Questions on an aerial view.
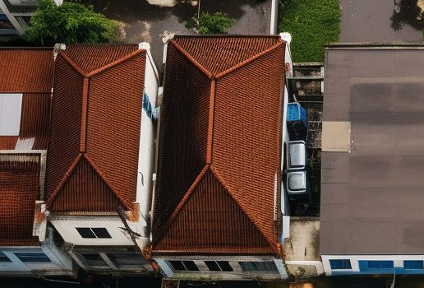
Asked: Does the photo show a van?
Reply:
No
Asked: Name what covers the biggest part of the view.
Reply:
buildings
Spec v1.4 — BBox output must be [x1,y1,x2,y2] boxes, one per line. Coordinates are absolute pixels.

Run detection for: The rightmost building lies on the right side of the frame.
[320,49,424,276]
